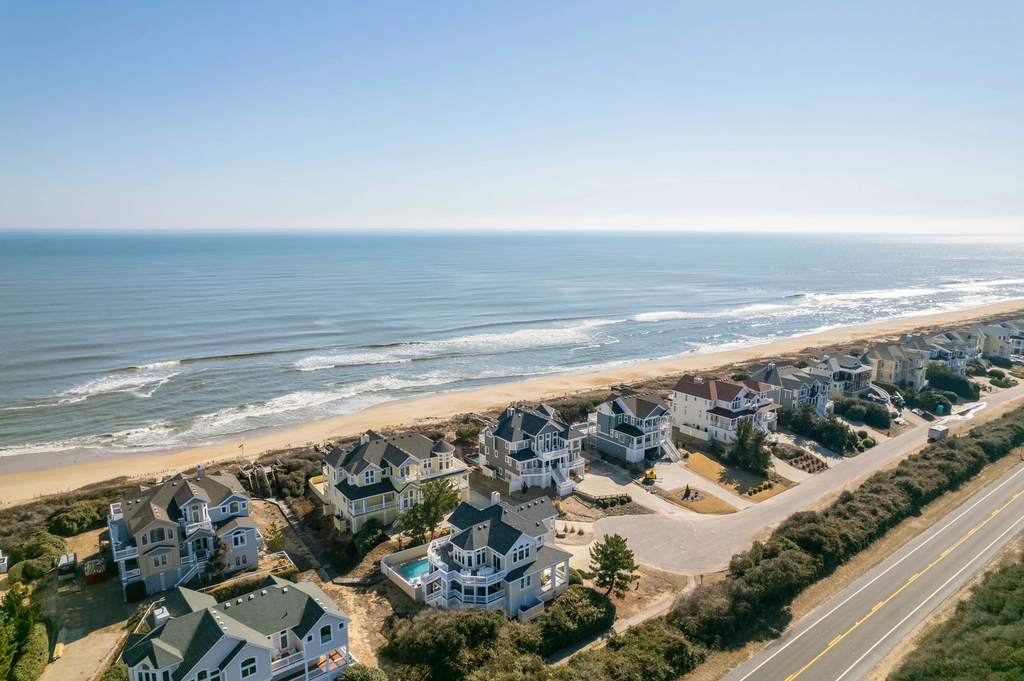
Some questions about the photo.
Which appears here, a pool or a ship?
pool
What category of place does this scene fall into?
residential area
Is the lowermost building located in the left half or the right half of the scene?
left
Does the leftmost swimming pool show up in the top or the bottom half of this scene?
bottom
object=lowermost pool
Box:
[387,554,439,596]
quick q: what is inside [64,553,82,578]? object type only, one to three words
vehicle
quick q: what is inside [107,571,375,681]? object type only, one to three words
building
